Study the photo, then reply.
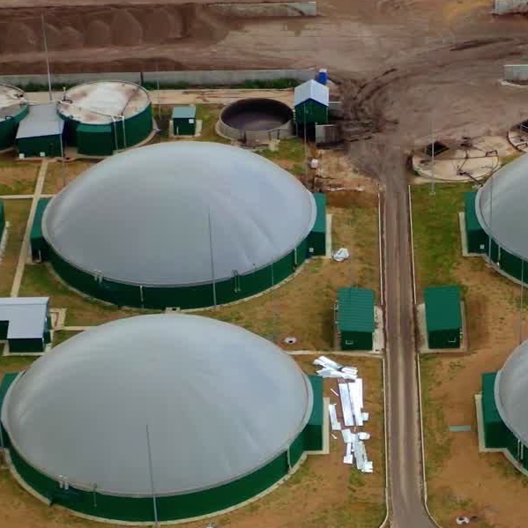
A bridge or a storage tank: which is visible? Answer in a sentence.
The one in the frame is a storage tank.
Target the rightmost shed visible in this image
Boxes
[411,284,467,353]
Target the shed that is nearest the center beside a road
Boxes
[334,285,389,354]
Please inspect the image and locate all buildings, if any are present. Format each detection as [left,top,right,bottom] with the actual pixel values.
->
[292,78,330,140]
[166,105,204,139]
[11,101,71,163]
[0,294,72,362]
[411,284,467,353]
[334,285,389,354]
